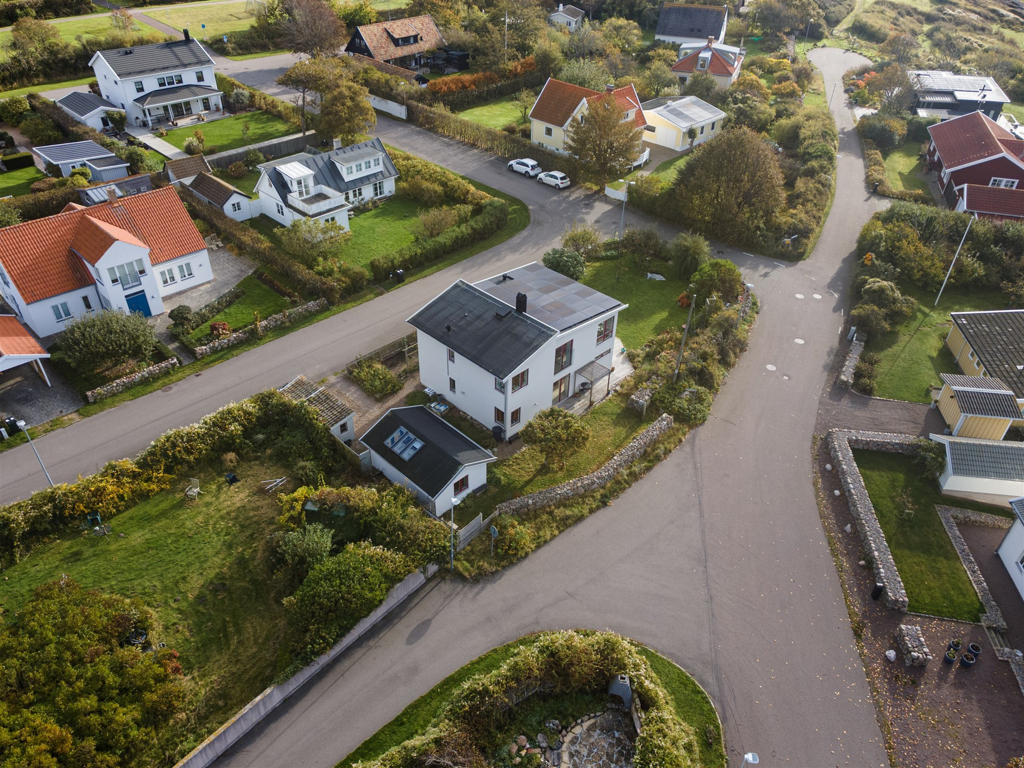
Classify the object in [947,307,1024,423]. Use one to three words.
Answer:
house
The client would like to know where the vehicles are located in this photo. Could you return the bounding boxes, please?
[507,155,543,177]
[537,169,573,189]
